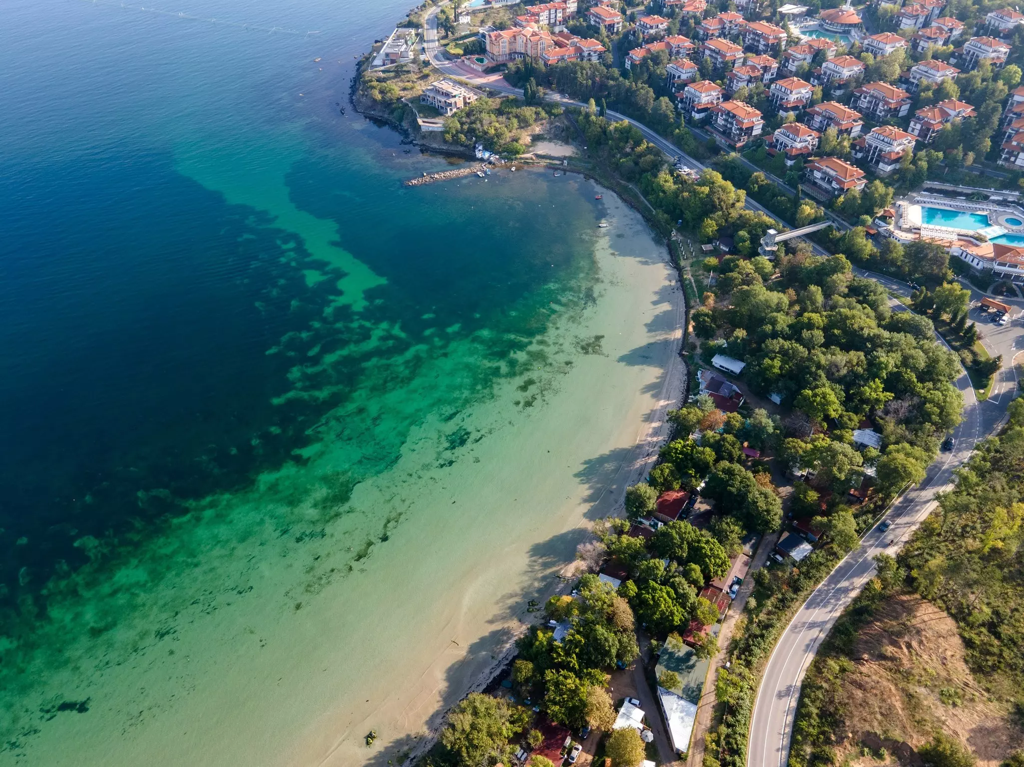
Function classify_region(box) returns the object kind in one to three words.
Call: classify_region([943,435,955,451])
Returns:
vehicle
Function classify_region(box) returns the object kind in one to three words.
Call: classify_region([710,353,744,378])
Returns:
shed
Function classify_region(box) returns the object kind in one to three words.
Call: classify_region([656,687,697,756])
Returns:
building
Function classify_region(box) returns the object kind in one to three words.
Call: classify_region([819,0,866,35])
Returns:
building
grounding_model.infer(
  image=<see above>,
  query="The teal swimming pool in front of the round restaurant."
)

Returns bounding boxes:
[784,20,862,53]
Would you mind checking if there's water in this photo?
Yes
